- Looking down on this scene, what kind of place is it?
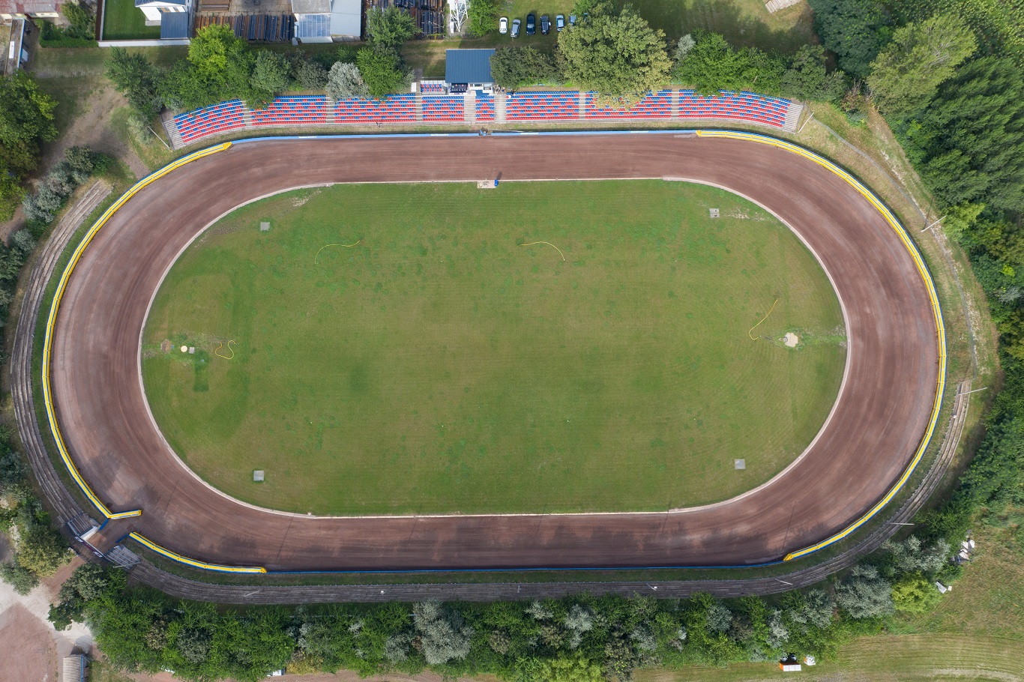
sports ground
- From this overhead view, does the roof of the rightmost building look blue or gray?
blue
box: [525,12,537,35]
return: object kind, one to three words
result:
vehicle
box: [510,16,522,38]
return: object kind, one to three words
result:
vehicle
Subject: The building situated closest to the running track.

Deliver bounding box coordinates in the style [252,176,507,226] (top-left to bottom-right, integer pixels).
[445,48,496,97]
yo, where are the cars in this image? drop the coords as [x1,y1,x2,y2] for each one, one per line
[525,12,537,35]
[555,12,566,32]
[539,14,549,35]
[498,15,509,34]
[510,16,522,38]
[568,10,578,30]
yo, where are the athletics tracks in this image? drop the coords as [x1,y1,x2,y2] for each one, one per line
[51,133,937,574]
